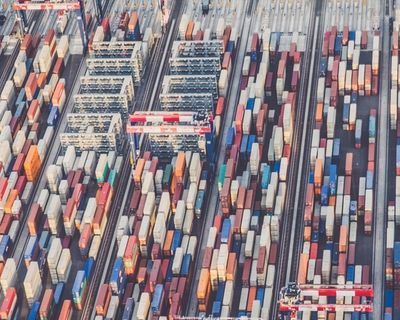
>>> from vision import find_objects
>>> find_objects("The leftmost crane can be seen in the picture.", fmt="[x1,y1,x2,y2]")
[14,0,89,52]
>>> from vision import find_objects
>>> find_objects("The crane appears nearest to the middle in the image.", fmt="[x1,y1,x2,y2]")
[127,109,215,179]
